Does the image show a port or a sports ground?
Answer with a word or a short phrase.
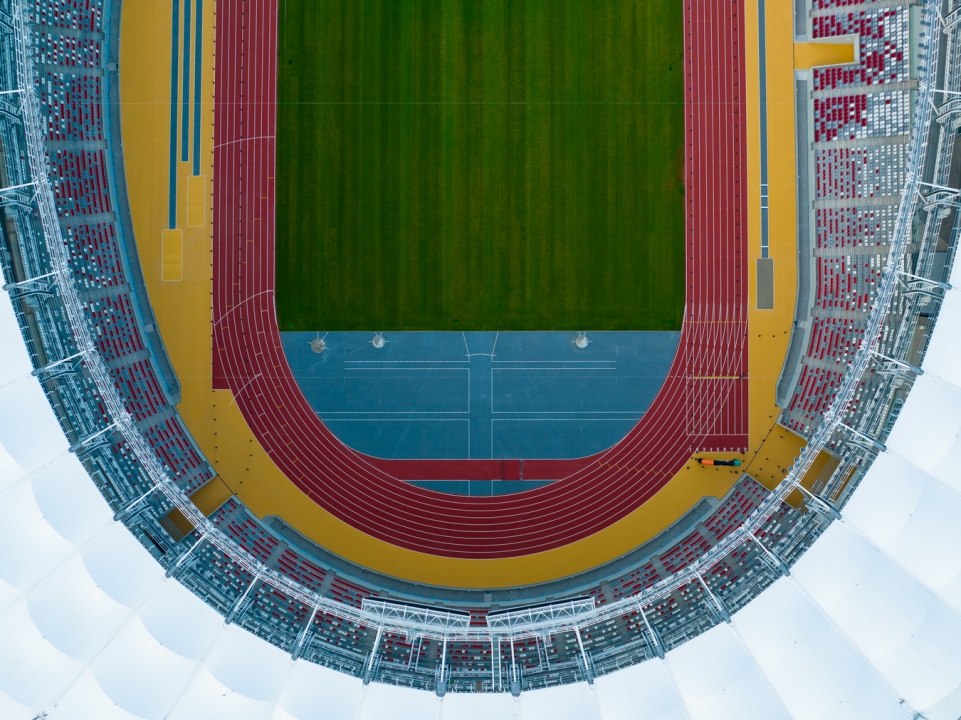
sports ground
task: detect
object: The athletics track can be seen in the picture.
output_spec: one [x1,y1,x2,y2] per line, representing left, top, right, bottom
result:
[212,0,749,560]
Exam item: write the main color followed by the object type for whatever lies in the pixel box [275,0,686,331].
green soccer field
